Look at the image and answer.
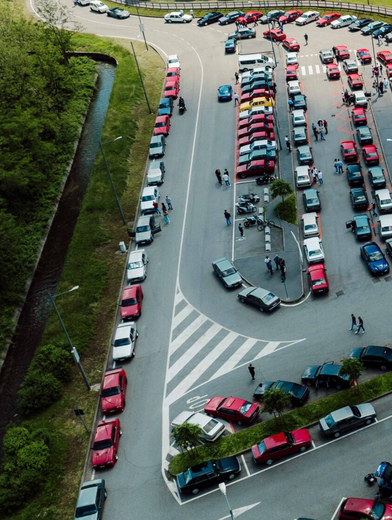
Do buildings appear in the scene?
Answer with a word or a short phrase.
No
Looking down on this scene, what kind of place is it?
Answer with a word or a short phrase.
parking lot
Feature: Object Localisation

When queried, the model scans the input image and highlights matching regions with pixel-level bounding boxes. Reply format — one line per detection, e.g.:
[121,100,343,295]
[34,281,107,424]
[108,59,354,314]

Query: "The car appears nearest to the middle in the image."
[212,257,243,289]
